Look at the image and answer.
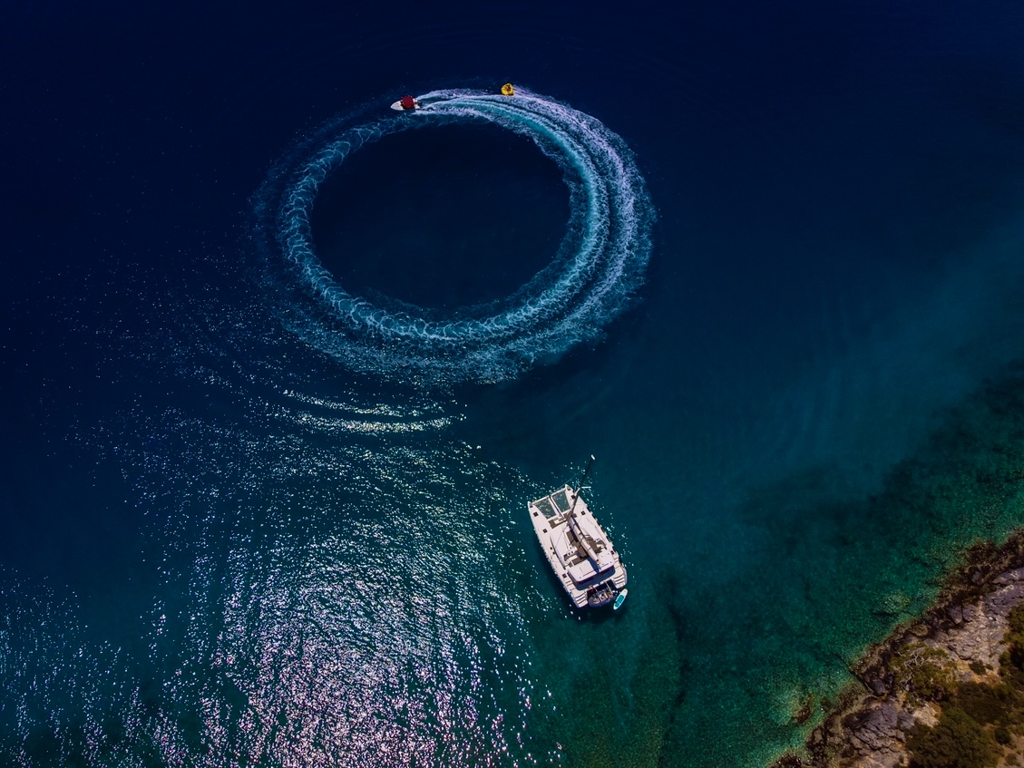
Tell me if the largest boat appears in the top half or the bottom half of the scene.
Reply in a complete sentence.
The largest boat is in the bottom half of the image.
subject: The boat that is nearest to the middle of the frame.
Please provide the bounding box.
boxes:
[496,446,624,609]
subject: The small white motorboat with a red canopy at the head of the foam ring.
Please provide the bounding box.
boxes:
[390,95,423,112]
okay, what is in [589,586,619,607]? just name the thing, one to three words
boat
